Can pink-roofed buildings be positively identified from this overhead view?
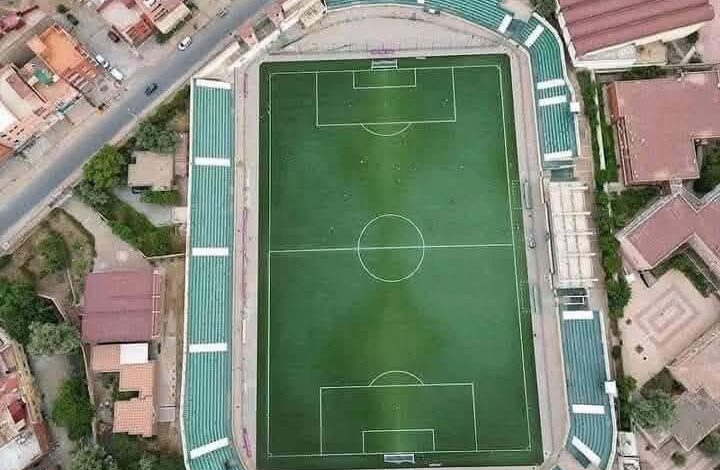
Yes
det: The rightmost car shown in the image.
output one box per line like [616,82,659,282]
[214,5,228,18]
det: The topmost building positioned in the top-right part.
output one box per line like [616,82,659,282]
[551,0,716,70]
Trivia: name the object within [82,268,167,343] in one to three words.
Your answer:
shed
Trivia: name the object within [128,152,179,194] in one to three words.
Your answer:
house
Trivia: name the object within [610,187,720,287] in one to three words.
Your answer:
building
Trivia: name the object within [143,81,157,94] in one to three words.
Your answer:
vehicle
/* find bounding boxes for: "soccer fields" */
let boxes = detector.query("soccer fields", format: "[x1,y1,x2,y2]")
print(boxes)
[256,54,544,470]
